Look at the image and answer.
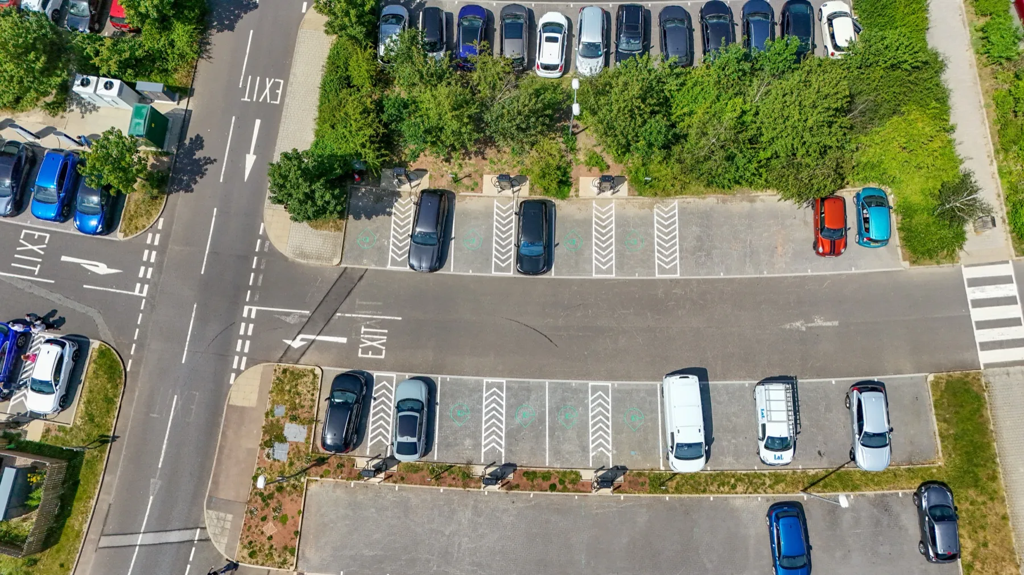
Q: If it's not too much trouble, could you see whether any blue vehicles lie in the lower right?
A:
Yes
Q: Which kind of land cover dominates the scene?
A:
paved ground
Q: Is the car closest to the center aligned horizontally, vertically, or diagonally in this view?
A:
vertically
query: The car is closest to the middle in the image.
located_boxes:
[513,201,552,274]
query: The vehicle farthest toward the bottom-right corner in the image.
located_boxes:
[910,484,967,562]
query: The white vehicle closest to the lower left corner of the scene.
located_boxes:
[24,340,80,411]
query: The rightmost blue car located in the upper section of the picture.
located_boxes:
[851,190,895,246]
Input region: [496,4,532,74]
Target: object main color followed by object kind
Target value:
gray car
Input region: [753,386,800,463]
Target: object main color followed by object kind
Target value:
white van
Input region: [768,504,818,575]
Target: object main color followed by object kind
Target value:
blue car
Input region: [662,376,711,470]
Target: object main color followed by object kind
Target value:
white van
